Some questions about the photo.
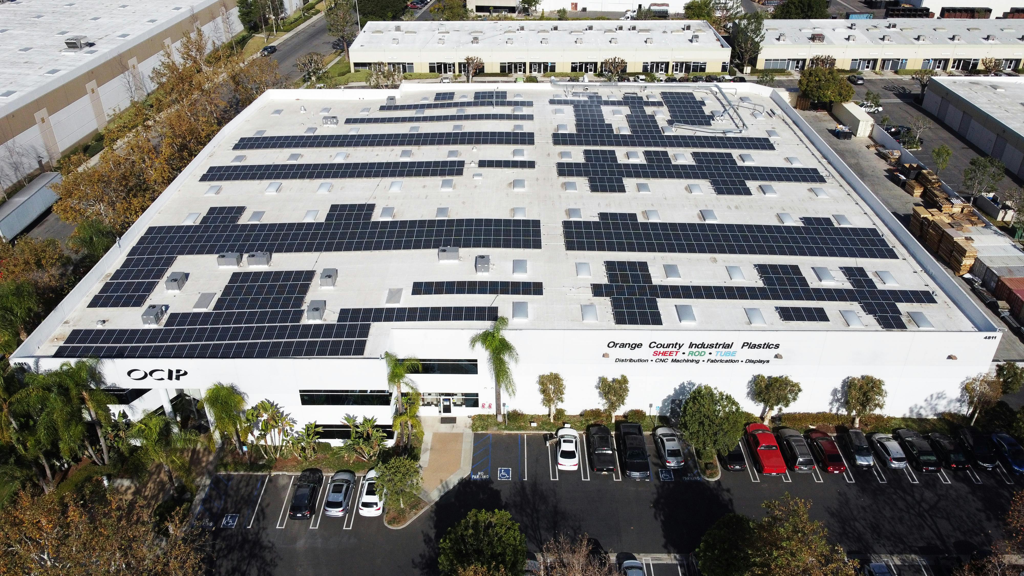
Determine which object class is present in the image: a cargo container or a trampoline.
cargo container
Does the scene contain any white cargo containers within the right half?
Yes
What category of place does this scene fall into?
industrial area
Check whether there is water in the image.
No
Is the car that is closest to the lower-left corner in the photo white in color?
No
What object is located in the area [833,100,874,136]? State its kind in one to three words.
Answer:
shipping container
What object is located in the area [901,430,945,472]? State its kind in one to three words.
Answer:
car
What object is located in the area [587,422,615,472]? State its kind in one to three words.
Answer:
truck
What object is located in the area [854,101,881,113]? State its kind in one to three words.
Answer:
vehicle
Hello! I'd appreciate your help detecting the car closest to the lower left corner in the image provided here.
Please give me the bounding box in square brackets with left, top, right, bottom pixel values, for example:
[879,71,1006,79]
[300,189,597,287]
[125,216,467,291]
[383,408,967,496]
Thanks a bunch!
[286,470,323,518]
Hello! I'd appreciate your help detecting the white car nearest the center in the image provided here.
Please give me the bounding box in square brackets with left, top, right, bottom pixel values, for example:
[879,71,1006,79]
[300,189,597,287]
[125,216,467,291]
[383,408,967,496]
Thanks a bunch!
[546,428,580,470]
